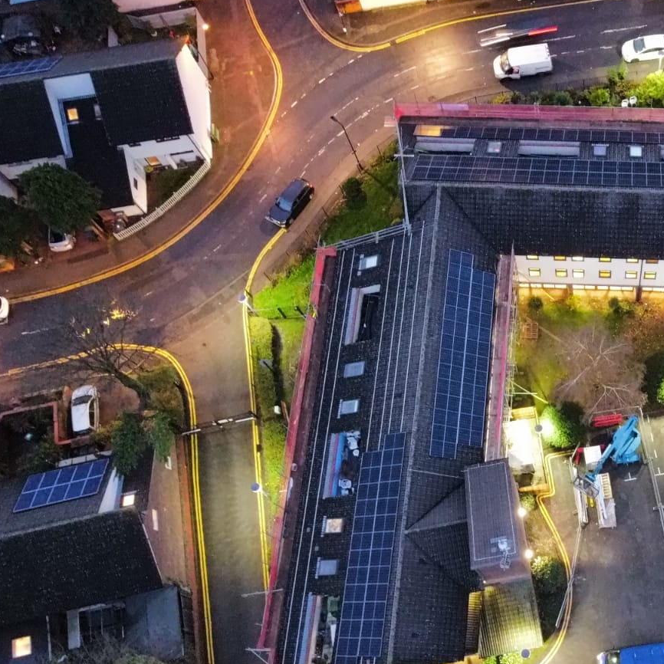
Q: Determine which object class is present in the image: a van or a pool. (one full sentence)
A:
Visible in the photo is a van.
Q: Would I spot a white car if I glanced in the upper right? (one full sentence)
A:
Yes, looking in the upper right, one can make out a white car.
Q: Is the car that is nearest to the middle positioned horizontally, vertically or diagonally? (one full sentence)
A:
In this picture, the car that is nearest to the middle is oriented diagonally.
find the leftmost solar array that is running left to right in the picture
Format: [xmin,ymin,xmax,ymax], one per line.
[0,58,59,77]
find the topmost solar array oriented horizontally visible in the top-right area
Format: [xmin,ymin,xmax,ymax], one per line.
[439,126,664,146]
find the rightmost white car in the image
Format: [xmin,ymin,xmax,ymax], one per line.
[624,34,664,64]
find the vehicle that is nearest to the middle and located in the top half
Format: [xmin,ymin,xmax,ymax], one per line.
[260,177,314,230]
